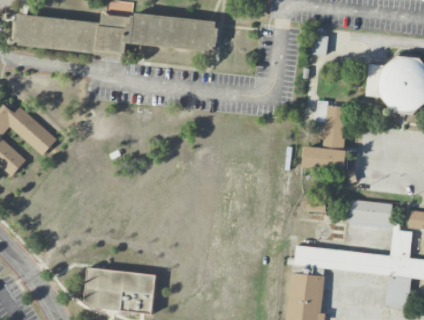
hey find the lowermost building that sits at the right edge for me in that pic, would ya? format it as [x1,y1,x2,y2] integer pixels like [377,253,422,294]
[287,226,424,309]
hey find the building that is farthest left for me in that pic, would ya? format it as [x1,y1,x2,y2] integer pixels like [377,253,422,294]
[0,106,57,177]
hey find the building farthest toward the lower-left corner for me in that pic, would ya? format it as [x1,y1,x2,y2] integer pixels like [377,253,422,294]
[83,268,156,314]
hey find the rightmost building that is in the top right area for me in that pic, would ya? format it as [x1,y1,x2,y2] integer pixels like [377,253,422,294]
[364,56,424,116]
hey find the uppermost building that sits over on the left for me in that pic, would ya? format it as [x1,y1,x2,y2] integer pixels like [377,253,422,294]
[2,2,218,58]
